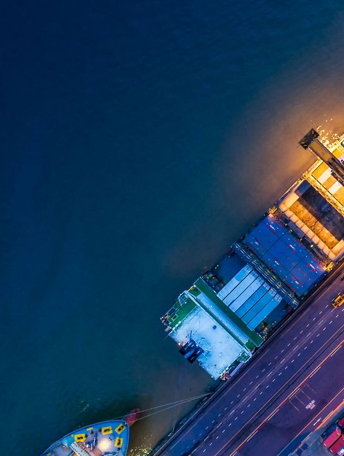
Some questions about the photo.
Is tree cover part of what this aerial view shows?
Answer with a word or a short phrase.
No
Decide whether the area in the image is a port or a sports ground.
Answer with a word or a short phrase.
port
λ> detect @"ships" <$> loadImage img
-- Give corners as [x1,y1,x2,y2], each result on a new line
[162,134,344,383]
[42,409,142,456]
